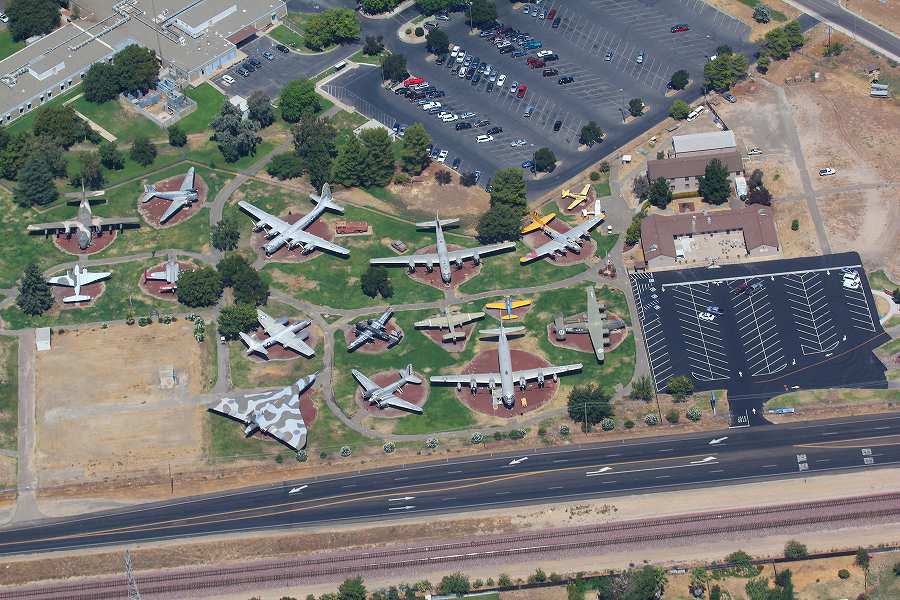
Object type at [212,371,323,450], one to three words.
airplane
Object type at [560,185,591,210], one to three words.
airplane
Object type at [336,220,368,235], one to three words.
vehicle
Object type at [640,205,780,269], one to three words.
building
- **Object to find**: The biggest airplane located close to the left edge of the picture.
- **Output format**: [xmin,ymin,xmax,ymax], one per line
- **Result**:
[26,184,139,251]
